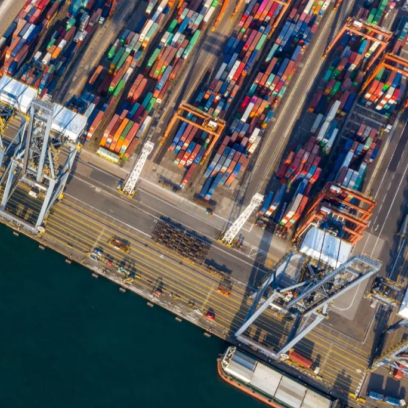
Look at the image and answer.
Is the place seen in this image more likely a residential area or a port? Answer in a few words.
port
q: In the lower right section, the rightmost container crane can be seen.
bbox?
[342,263,408,369]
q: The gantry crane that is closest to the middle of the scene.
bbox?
[159,100,230,164]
